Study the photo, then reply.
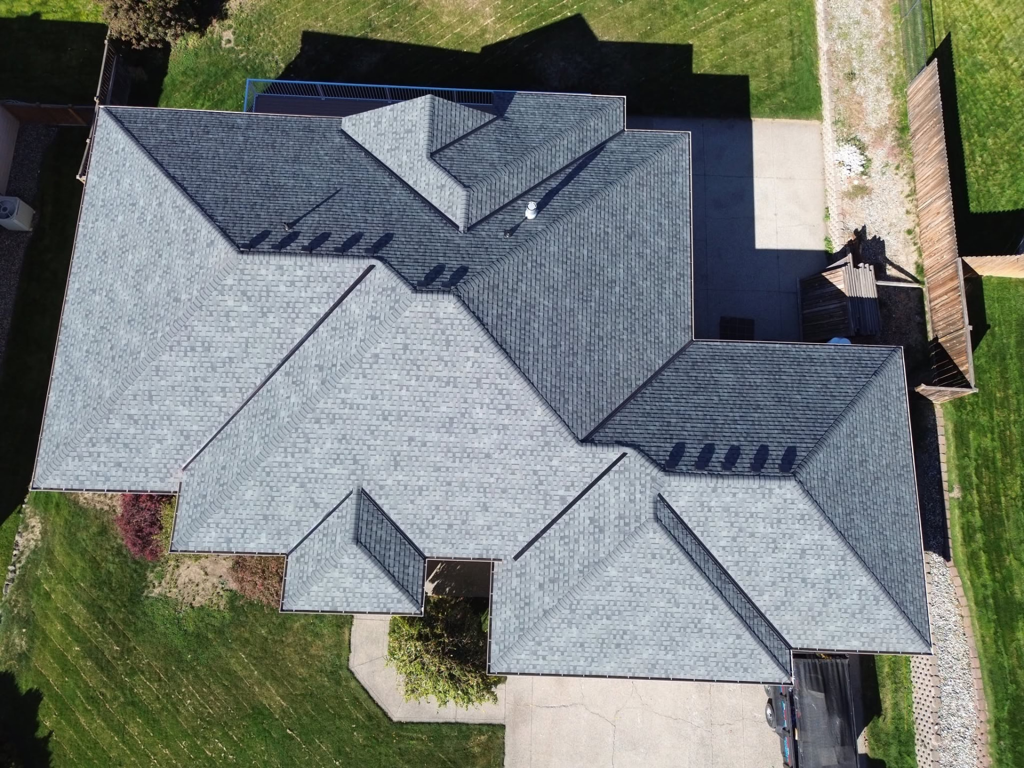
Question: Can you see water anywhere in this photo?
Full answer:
No, there is no water in the image.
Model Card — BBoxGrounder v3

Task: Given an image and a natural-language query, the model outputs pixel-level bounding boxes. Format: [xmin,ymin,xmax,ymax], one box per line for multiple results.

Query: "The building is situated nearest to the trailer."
[32,91,932,683]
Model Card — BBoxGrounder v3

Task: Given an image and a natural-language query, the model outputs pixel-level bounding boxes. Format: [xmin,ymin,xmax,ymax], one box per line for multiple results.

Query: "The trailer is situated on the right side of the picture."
[764,651,861,768]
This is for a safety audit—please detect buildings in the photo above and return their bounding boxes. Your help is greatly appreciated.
[32,91,932,683]
[0,106,19,199]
